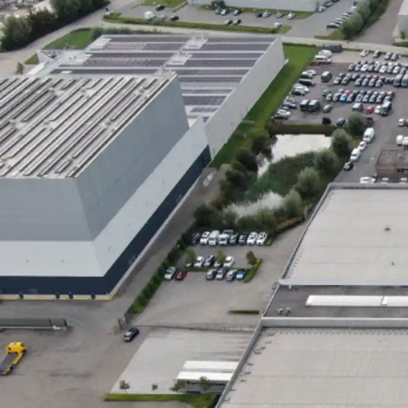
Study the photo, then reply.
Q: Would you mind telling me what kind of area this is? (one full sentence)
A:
This image shows an industrial area.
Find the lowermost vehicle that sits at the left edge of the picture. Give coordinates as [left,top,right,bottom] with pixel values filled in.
[0,336,23,367]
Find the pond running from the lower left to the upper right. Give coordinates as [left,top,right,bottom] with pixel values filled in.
[232,135,333,217]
